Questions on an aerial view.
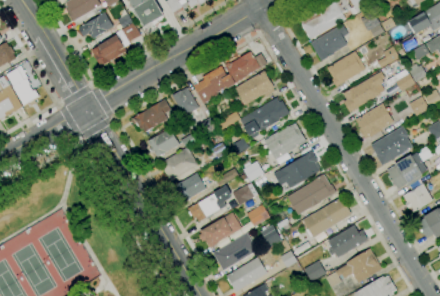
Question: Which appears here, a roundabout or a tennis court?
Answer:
tennis court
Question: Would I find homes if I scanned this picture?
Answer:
Yes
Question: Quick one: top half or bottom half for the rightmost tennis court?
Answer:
bottom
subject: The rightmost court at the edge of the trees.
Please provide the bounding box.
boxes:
[39,228,84,282]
